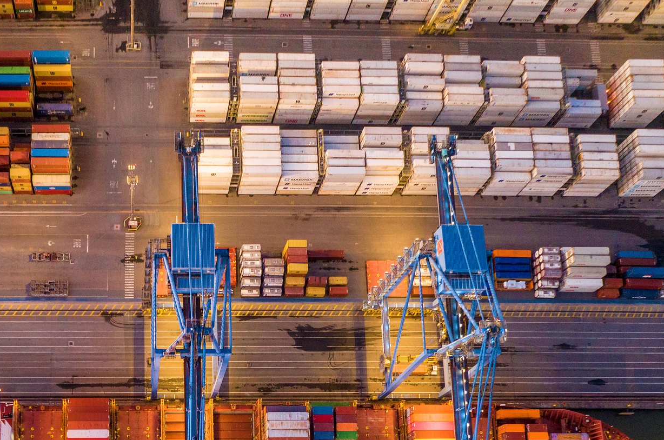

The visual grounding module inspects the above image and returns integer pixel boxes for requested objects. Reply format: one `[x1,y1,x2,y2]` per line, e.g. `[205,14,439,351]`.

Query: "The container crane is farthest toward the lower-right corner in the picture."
[356,133,504,440]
